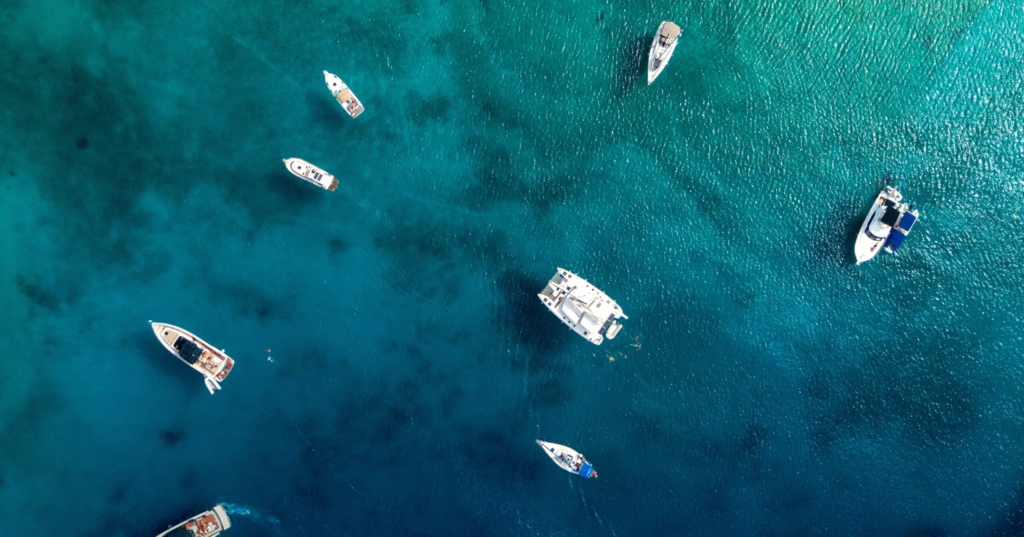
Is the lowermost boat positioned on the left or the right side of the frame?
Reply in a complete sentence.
The lowermost boat is on the left side of the image.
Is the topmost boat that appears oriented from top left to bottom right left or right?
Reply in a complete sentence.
You can find the topmost boat that appears oriented from top left to bottom right on the left side of the picture.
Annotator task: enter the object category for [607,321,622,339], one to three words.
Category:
boat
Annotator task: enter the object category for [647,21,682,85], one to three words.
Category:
boat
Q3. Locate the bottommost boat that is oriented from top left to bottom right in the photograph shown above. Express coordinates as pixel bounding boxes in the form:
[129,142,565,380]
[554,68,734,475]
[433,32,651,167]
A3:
[536,440,598,478]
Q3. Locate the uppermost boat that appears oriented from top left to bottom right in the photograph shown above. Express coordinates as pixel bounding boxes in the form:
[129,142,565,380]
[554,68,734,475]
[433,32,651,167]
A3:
[323,71,365,118]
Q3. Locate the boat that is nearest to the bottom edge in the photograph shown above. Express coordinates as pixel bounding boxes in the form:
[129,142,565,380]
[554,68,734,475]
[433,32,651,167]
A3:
[158,504,231,537]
